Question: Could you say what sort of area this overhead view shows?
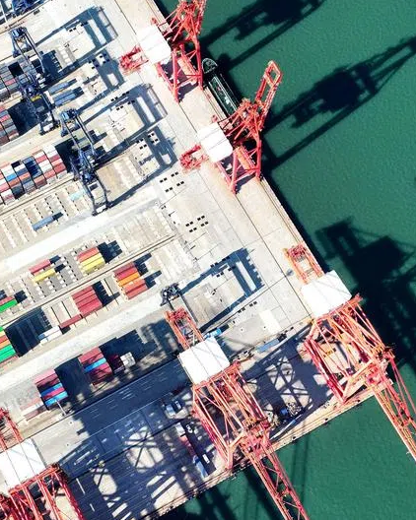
port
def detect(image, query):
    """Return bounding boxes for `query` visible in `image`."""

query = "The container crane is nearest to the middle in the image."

[156,284,198,350]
